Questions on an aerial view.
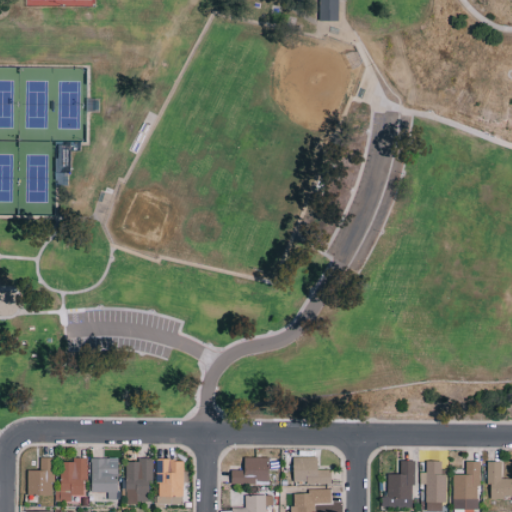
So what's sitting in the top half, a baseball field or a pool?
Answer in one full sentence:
Visible in the top half is a baseball field.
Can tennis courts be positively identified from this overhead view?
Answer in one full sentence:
Yes, you can see a tennis court in this photo.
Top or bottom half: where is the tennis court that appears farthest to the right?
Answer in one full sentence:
It is in the top half that the tennis court that appears farthest to the right appears.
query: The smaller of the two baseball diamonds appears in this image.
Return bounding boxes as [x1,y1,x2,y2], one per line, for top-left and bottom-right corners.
[118,188,173,247]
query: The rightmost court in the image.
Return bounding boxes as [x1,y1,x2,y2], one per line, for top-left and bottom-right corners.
[58,81,81,129]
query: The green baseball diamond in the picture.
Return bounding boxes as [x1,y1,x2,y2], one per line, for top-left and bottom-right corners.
[110,16,349,277]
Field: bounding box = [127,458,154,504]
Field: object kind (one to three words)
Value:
house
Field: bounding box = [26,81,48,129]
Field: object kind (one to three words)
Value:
tennis court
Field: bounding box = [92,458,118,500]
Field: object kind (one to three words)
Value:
house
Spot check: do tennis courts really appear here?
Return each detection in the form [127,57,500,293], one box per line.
[0,81,16,128]
[26,154,48,202]
[58,81,81,129]
[0,154,13,202]
[26,81,48,129]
